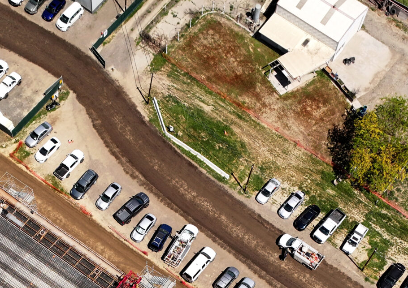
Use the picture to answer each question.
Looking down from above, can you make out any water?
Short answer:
No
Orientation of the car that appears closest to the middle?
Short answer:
diagonally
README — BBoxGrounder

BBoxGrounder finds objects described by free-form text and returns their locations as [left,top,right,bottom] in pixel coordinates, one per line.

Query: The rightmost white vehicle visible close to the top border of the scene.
[57,0,84,34]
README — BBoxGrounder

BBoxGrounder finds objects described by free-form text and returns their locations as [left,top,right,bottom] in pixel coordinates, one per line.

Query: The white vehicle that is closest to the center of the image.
[256,176,281,206]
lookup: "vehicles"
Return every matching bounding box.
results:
[378,261,406,288]
[0,72,22,102]
[25,0,48,16]
[0,61,9,78]
[46,100,59,110]
[256,176,281,206]
[43,0,67,22]
[237,277,254,288]
[36,137,62,165]
[96,183,121,212]
[341,222,371,257]
[53,150,85,183]
[278,189,306,220]
[312,205,346,245]
[180,247,214,285]
[213,266,239,288]
[342,57,355,64]
[148,223,171,253]
[164,224,196,269]
[26,121,53,149]
[57,0,84,34]
[277,236,327,271]
[131,213,157,243]
[71,168,99,202]
[117,195,149,226]
[295,202,319,233]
